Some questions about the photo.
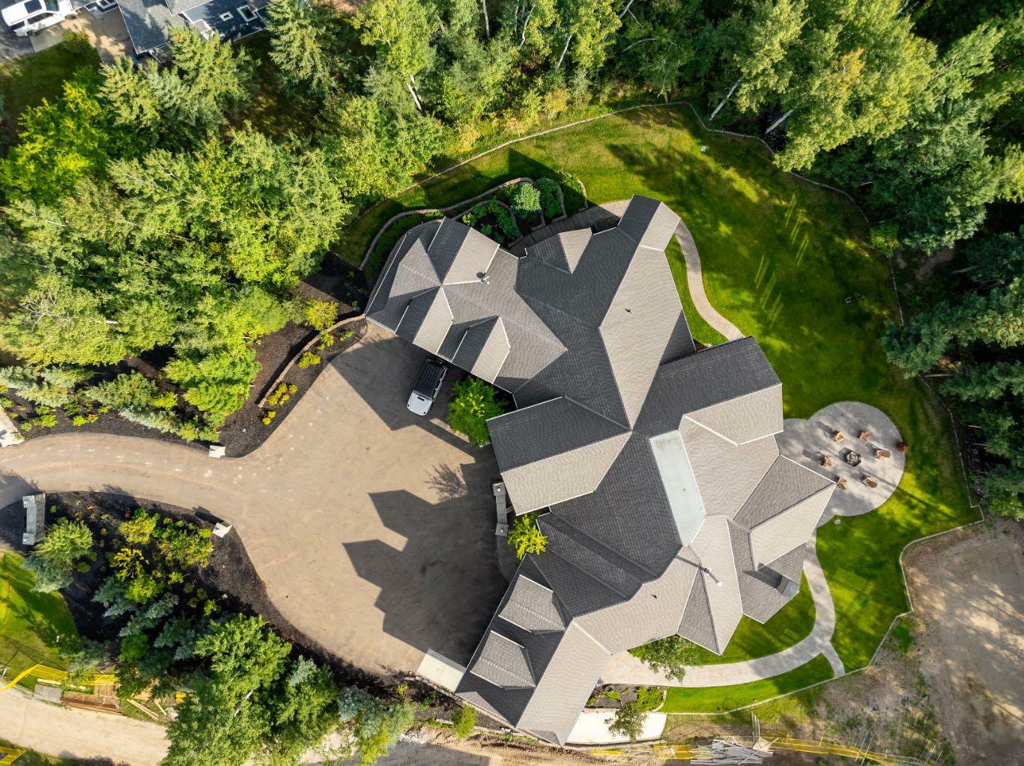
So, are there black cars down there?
Yes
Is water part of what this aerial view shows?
No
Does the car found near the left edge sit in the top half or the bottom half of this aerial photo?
top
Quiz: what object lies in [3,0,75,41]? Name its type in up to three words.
car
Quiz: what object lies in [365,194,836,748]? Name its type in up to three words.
house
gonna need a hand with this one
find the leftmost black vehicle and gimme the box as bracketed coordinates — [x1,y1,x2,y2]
[408,359,448,416]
